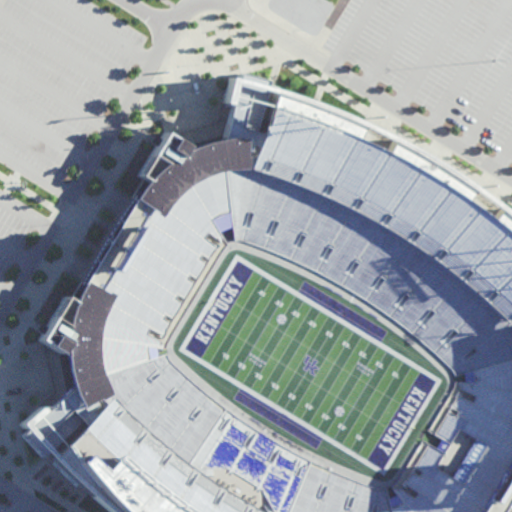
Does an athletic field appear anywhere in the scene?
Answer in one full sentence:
Yes, the photo shows an athletic field.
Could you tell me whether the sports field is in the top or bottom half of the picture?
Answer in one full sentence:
The bottom half of the photo is where the sports field is.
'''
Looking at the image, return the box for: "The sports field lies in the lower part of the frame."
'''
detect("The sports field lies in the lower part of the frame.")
[172,250,448,478]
